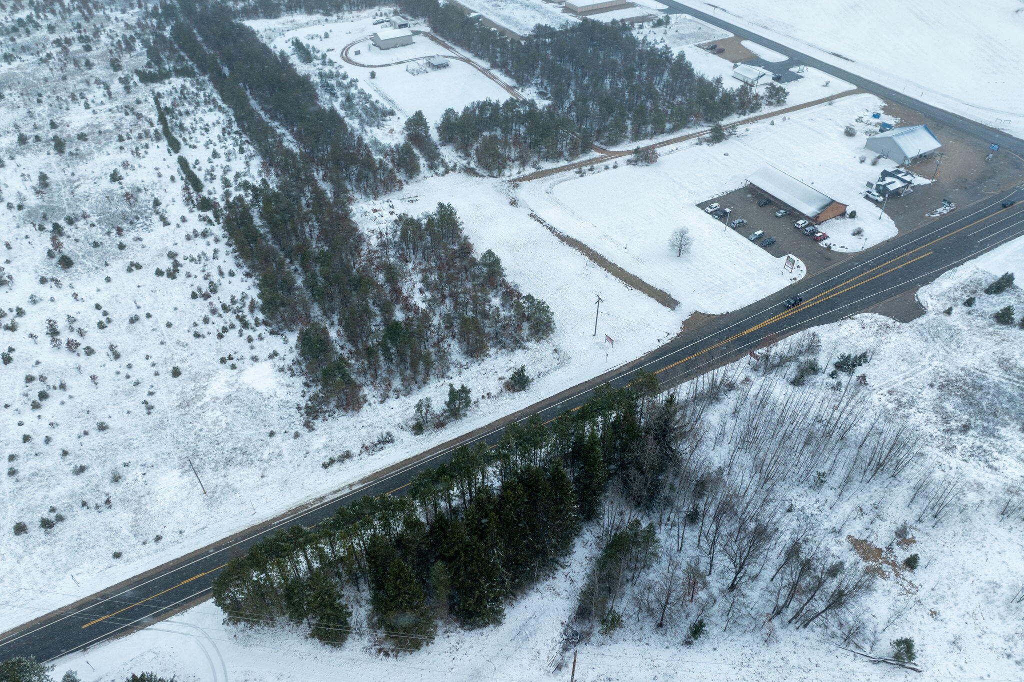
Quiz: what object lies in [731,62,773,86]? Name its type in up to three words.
house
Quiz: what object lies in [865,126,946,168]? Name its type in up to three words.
building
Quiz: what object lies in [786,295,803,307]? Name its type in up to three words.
vehicle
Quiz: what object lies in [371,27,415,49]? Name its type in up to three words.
building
